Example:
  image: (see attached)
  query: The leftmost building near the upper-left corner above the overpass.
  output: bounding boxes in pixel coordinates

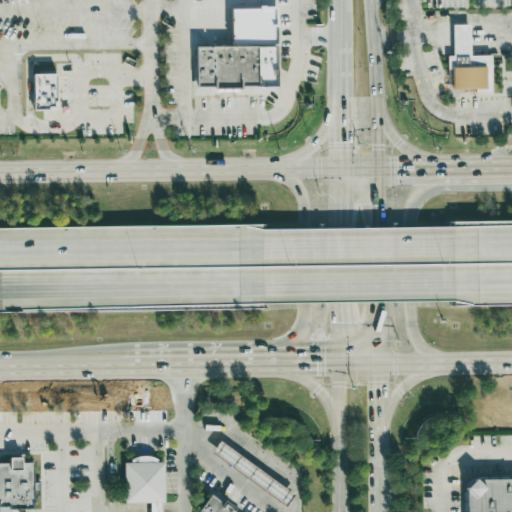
[34,73,58,110]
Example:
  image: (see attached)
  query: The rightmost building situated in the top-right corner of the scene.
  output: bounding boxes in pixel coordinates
[448,24,495,94]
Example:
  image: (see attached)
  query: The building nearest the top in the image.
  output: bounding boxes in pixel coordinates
[234,5,280,45]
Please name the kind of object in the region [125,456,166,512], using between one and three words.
building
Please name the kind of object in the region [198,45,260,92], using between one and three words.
building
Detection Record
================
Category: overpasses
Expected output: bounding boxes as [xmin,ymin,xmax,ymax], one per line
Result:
[0,220,512,315]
